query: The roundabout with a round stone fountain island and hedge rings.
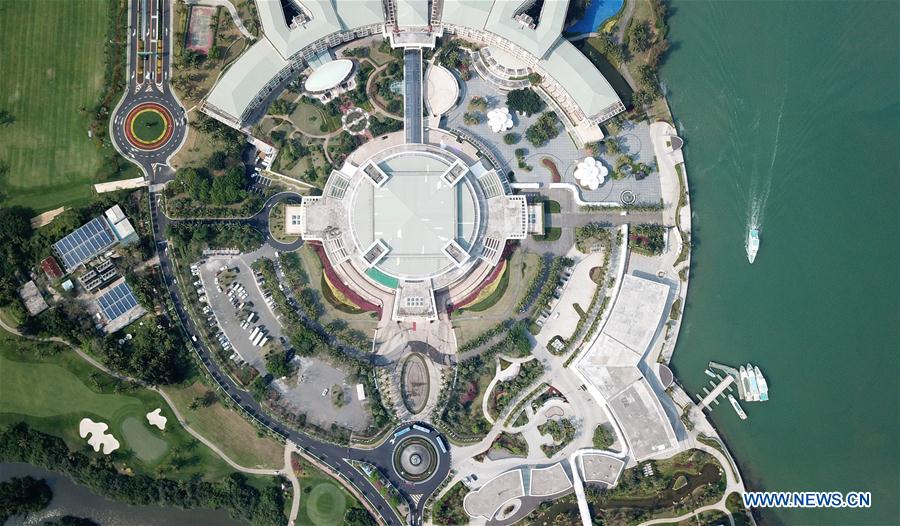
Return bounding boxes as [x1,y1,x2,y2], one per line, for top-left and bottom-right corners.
[343,421,452,526]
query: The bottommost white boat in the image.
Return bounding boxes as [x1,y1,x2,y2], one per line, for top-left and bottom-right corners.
[729,394,747,421]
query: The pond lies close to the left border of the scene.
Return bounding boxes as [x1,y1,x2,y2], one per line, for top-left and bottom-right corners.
[0,462,256,526]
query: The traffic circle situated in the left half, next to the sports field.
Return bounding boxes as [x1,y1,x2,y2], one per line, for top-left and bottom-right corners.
[110,83,190,213]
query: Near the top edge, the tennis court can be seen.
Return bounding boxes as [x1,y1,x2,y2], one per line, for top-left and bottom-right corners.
[183,4,216,54]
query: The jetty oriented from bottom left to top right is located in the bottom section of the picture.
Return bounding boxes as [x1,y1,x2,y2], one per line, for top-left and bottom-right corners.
[695,372,735,412]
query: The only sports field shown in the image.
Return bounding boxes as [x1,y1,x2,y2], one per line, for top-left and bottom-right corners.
[0,0,107,210]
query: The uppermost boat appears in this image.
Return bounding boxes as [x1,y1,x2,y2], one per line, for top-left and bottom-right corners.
[747,230,759,264]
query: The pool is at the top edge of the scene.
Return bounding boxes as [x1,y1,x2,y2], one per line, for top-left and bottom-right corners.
[564,0,628,33]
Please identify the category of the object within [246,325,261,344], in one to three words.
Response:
vehicle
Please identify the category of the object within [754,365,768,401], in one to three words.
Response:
boat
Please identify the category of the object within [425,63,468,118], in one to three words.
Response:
building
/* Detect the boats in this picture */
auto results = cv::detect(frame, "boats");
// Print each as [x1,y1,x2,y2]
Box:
[747,230,759,264]
[754,365,768,401]
[729,394,747,421]
[740,365,751,401]
[747,362,758,401]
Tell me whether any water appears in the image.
Yes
